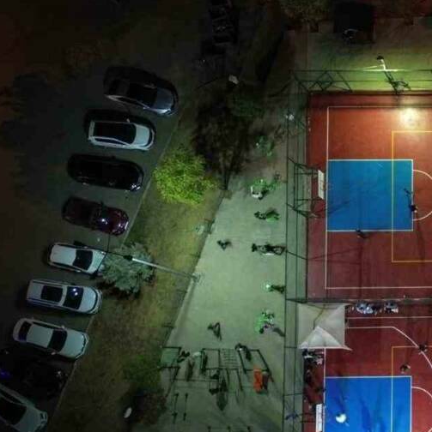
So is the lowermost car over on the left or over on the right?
left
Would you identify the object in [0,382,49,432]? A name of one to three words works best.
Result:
car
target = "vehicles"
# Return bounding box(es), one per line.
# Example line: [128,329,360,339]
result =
[108,72,180,115]
[61,197,132,236]
[86,117,161,154]
[44,241,113,278]
[15,319,90,358]
[27,280,106,316]
[68,154,147,193]
[0,352,68,394]
[0,382,49,432]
